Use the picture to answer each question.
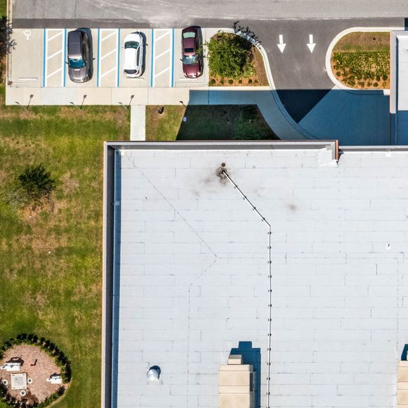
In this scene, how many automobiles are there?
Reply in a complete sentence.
In total, 3 automobiles can be seen.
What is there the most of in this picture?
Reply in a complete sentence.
Most of the picture is covered by buildings.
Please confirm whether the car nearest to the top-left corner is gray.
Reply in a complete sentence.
Yes, the car nearest to the top-left corner appears gray.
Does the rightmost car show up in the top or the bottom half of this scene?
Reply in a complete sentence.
Seen from above, the rightmost car lies in the top half of the view.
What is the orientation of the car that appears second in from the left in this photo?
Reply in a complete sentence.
The car that appears second in from the left is laid out vertically.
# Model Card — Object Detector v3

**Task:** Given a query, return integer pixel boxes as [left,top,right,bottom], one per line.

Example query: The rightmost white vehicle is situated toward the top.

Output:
[121,33,146,80]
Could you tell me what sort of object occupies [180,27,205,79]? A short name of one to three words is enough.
car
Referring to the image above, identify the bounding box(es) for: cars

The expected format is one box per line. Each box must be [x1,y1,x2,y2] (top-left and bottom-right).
[180,27,205,79]
[65,30,92,82]
[121,33,146,80]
